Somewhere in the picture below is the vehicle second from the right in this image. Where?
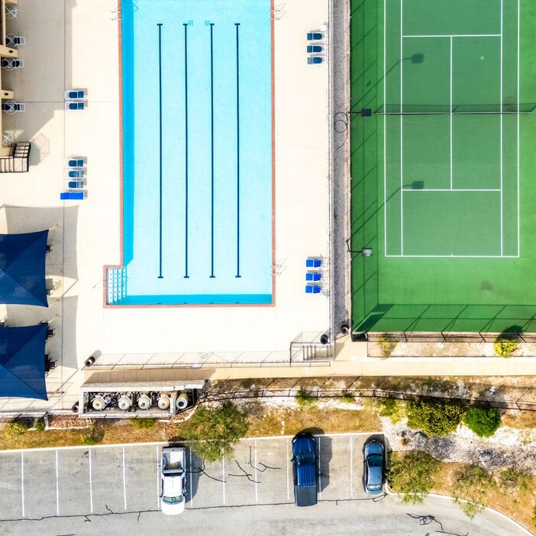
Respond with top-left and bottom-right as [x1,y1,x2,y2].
[289,432,319,507]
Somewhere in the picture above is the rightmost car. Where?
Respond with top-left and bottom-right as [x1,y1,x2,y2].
[360,436,388,495]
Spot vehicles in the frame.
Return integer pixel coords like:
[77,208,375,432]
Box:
[289,432,319,507]
[156,446,186,518]
[360,436,388,495]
